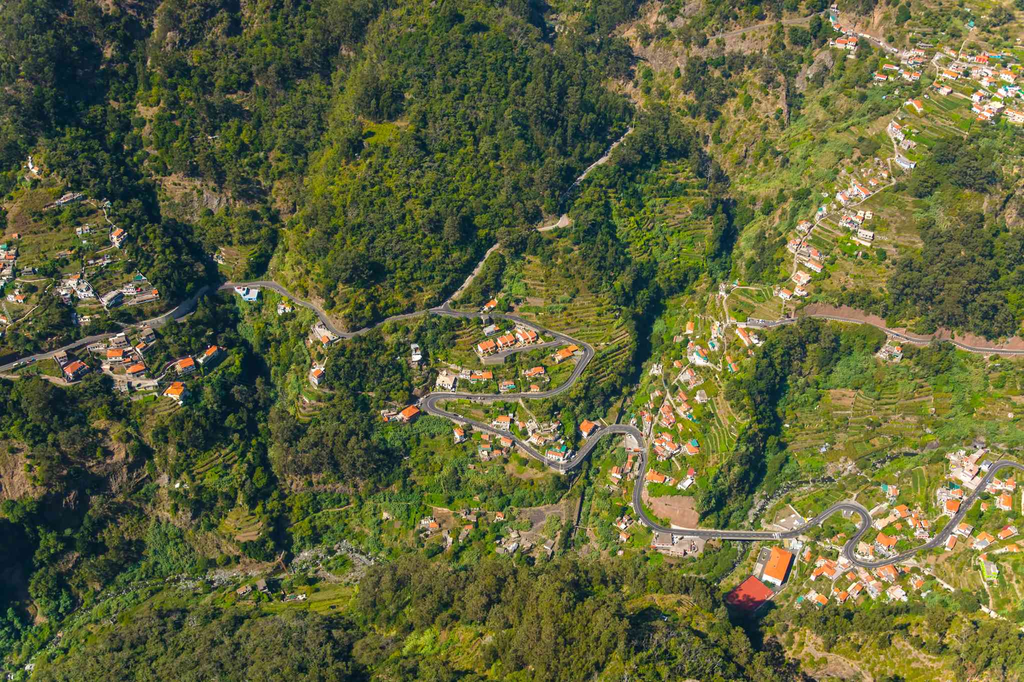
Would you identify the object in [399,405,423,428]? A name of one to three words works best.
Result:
house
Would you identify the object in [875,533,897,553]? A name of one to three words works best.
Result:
house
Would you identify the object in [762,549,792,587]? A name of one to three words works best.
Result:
building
